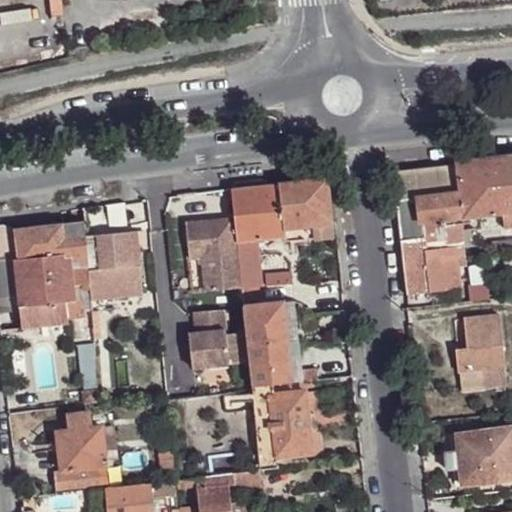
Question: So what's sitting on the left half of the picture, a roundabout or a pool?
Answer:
pool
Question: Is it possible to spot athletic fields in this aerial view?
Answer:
No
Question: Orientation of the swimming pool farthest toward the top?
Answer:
vertically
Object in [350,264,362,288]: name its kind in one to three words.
vehicle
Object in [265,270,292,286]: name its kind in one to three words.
shed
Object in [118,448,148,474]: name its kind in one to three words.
swimming pool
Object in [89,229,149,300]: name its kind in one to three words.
house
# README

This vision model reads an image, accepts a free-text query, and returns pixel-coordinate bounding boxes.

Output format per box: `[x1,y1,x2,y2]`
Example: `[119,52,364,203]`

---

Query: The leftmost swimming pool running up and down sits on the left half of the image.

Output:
[32,340,58,392]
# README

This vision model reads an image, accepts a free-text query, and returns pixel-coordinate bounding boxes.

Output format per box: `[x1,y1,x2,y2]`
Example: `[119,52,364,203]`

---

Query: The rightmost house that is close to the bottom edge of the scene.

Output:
[454,424,512,492]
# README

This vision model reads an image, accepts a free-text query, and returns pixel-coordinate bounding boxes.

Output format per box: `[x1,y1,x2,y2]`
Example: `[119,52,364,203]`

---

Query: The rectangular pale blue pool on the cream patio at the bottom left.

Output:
[50,493,76,510]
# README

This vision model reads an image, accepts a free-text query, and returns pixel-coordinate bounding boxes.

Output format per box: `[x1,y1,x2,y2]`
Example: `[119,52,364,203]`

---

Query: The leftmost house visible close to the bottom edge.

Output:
[54,410,110,491]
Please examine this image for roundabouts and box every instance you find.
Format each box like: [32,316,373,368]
[320,74,362,116]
